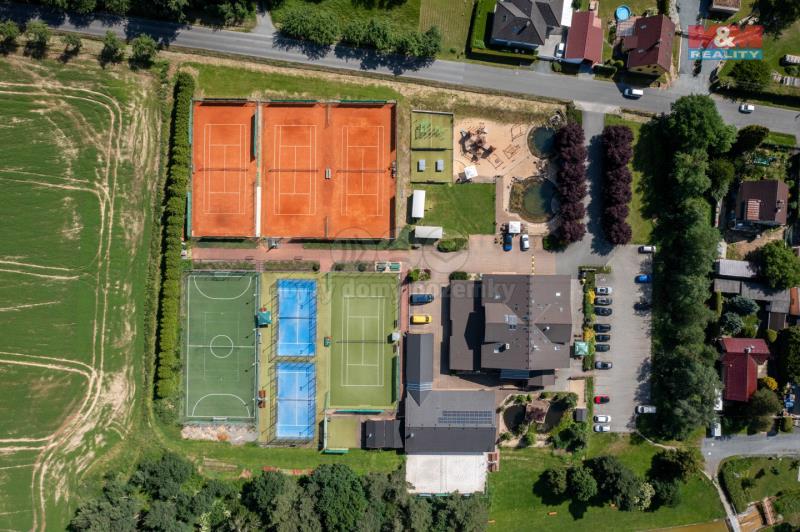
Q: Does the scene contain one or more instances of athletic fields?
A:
Yes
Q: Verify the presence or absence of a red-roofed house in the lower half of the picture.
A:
Yes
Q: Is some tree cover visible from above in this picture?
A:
Yes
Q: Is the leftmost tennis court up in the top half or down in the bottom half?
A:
top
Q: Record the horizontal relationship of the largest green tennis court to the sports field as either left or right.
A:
on the right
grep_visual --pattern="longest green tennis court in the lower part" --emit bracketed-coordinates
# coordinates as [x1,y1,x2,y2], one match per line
[330,273,396,406]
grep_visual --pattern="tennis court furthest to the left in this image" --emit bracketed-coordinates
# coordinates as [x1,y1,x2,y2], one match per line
[191,101,255,237]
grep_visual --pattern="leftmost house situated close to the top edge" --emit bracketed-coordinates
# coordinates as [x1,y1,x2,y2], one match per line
[492,0,566,48]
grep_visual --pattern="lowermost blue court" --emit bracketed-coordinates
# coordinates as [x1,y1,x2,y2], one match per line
[272,362,316,444]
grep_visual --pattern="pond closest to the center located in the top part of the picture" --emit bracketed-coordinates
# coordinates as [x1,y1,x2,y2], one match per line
[518,174,563,223]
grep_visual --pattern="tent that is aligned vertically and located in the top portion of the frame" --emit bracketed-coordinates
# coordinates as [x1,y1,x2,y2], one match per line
[412,191,425,219]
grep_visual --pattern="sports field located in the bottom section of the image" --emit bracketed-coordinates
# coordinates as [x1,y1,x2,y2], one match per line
[182,273,258,422]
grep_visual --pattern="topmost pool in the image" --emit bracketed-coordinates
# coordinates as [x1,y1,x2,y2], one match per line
[613,5,630,21]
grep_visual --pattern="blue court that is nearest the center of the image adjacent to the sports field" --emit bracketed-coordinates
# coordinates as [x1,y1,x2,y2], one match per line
[272,280,316,359]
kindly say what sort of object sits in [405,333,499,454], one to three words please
building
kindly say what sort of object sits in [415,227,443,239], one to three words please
tent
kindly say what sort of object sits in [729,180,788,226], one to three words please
house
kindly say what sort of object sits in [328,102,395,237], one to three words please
tennis court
